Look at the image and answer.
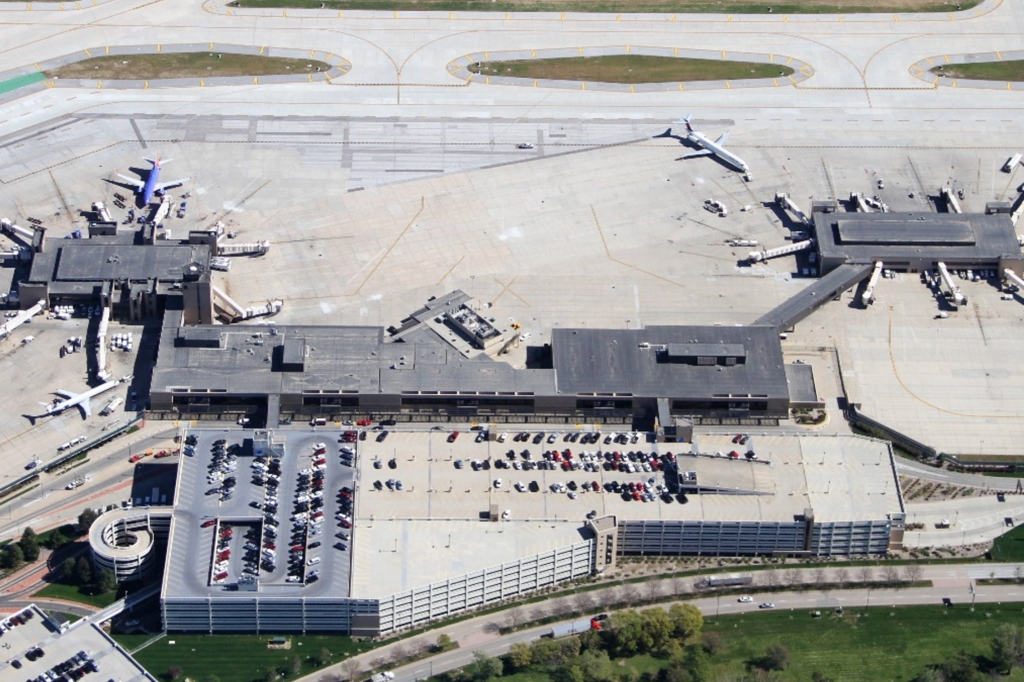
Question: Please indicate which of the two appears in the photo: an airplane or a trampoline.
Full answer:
There is an airplane in the scene.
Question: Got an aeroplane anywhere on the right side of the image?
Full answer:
Yes, an aeroplane shows up on the right side of the image.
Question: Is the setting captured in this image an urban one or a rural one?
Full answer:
The area shown here is urban.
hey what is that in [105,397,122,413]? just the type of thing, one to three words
vehicle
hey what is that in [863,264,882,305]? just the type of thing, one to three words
jet bridge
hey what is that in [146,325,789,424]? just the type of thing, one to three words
building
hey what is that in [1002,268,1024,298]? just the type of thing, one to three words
jet bridge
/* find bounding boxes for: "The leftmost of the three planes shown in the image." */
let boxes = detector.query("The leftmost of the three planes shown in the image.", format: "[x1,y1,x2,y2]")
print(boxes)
[36,381,119,422]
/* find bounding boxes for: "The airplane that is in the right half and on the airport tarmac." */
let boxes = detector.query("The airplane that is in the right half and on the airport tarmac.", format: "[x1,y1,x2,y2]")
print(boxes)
[679,117,748,172]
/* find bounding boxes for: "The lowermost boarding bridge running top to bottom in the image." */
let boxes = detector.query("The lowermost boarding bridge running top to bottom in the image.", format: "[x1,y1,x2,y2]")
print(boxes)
[97,309,110,383]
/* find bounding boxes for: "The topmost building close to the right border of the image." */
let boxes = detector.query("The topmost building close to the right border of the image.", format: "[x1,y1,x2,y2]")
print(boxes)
[811,201,1024,278]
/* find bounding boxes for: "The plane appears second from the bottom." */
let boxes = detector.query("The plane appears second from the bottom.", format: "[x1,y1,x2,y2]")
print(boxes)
[117,146,187,205]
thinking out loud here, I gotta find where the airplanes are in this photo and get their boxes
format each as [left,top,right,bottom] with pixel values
[679,117,748,172]
[36,381,119,422]
[117,146,187,205]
